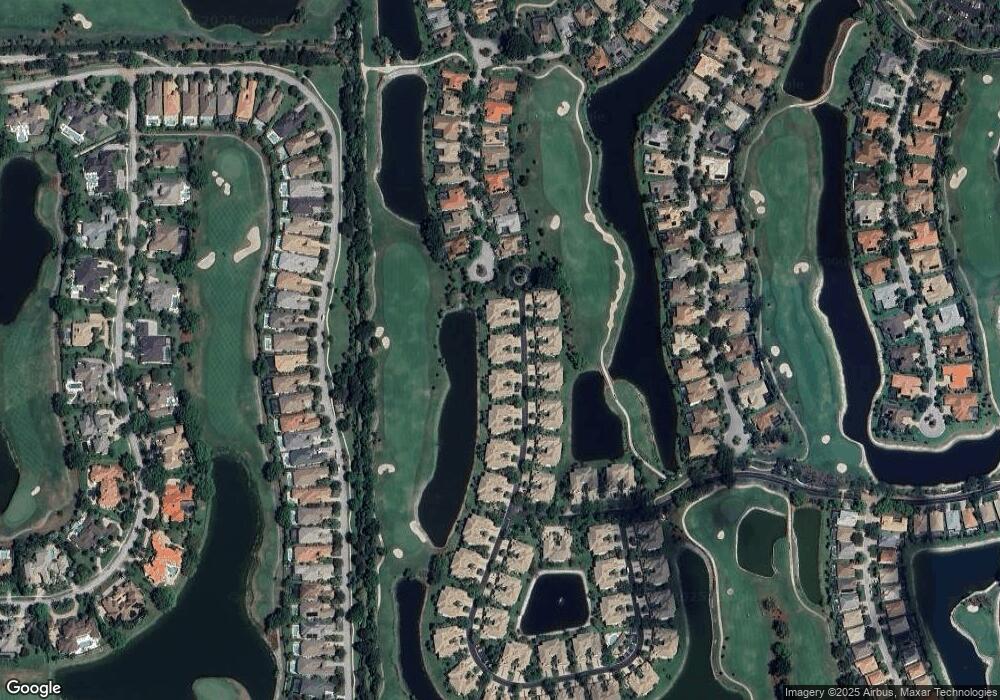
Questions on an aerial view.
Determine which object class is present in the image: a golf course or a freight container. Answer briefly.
golf course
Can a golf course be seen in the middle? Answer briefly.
Yes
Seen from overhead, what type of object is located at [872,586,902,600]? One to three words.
house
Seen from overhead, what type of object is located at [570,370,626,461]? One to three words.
pond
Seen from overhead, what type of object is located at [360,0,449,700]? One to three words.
golf course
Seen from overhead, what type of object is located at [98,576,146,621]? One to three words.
house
